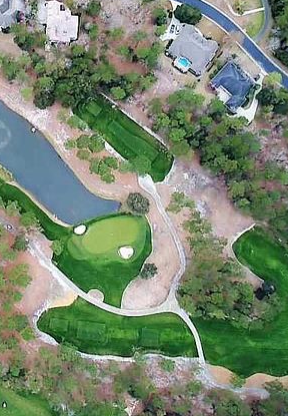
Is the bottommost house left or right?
right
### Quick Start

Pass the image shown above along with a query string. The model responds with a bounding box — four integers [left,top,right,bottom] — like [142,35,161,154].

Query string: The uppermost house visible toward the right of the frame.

[165,22,223,76]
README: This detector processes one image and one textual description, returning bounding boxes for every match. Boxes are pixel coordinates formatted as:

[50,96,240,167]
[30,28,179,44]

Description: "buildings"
[0,0,16,27]
[208,61,255,111]
[165,22,223,76]
[46,0,78,42]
